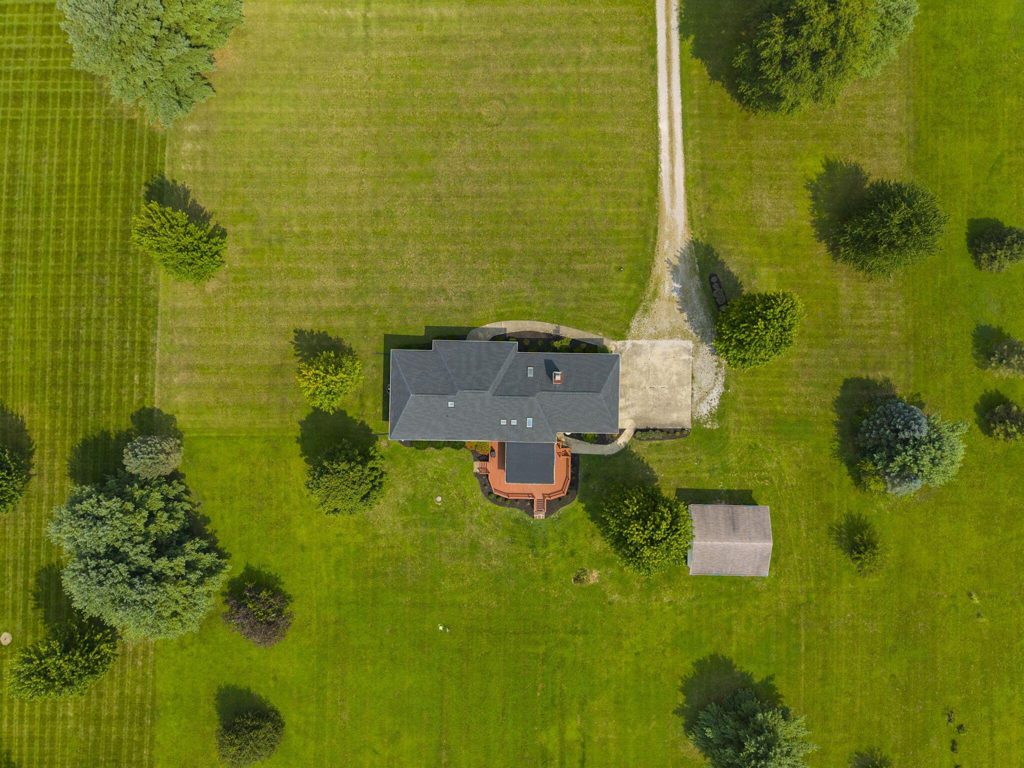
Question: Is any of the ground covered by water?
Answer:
No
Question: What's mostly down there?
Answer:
grass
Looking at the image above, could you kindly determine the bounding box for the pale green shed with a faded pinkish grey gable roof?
[685,504,773,576]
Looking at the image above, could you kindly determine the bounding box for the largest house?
[388,339,621,485]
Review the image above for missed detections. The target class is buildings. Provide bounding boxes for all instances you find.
[388,339,621,485]
[685,504,773,576]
